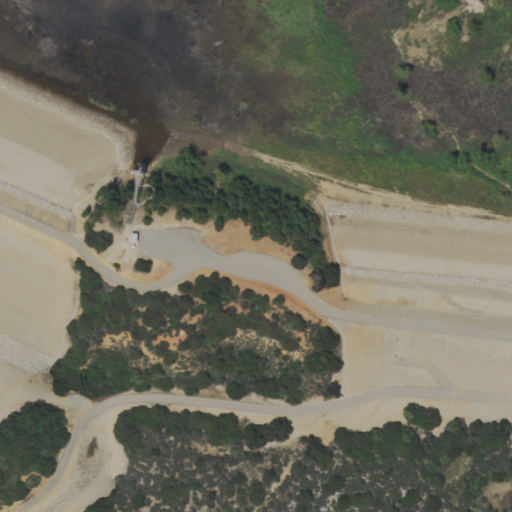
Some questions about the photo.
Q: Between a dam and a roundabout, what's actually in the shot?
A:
dam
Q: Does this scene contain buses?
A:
No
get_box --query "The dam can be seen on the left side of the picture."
[0,70,137,374]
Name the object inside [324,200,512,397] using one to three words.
dam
